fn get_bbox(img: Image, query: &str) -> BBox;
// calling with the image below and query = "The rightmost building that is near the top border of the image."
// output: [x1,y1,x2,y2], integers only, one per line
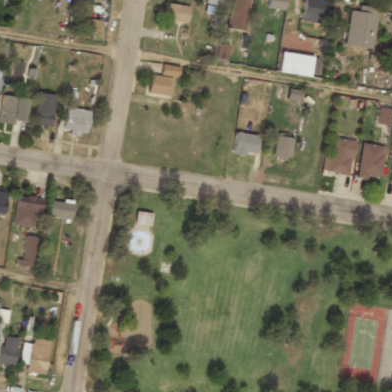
[346,5,380,48]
